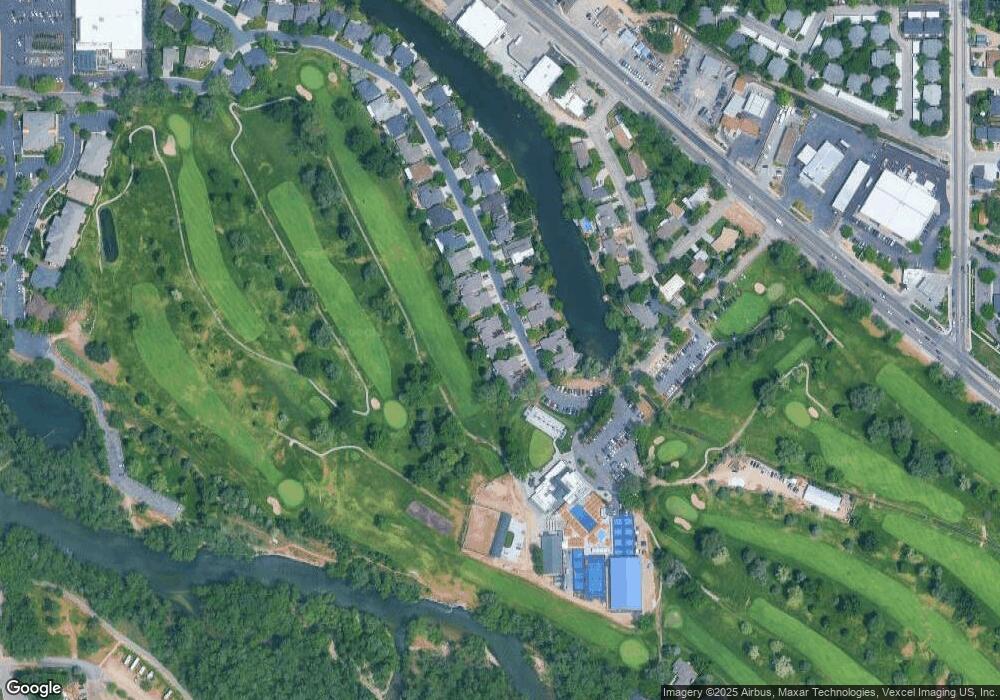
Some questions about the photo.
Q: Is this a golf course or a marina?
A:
golf course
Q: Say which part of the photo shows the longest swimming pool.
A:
bottom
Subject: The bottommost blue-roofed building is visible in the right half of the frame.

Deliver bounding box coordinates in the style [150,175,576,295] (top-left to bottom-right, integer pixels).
[611,557,642,610]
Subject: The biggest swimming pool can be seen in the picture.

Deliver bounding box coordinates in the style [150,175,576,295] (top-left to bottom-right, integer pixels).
[569,504,598,532]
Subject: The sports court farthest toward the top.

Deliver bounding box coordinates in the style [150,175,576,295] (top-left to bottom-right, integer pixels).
[612,514,635,556]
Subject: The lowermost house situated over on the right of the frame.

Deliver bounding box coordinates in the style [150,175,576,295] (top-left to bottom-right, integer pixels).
[674,655,697,681]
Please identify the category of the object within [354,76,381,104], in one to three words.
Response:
house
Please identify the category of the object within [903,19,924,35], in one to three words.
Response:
building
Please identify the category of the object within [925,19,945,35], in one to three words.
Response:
building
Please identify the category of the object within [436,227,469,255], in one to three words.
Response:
house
